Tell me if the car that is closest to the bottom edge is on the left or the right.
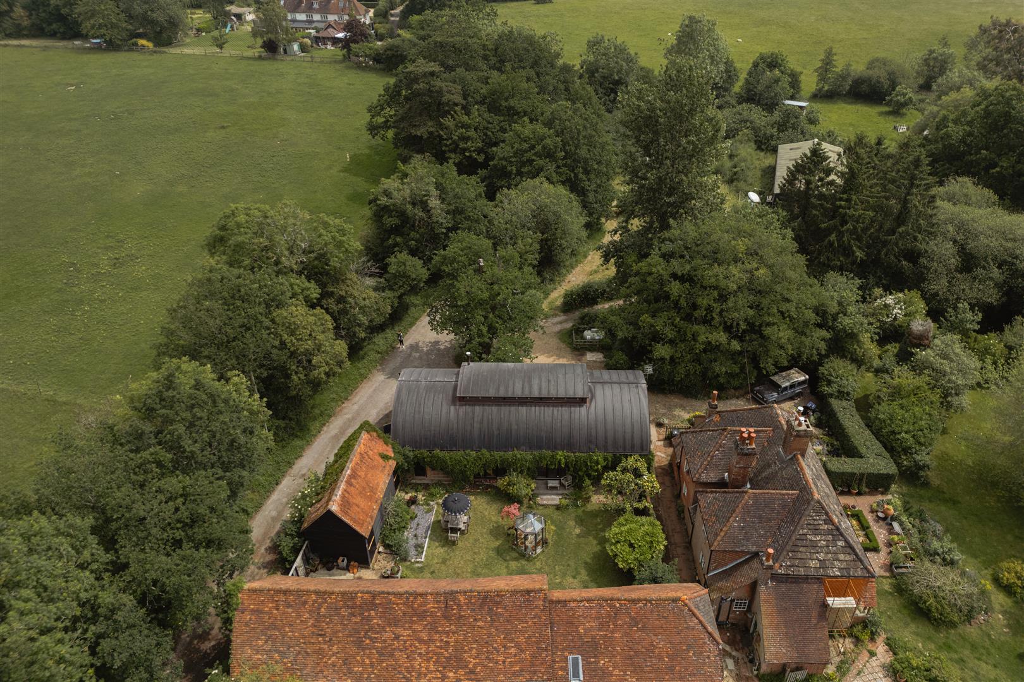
right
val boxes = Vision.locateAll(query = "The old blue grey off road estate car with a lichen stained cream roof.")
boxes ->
[755,366,813,404]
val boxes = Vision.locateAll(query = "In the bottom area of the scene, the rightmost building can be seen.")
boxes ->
[665,385,881,682]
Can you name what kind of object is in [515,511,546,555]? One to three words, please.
greenhouse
